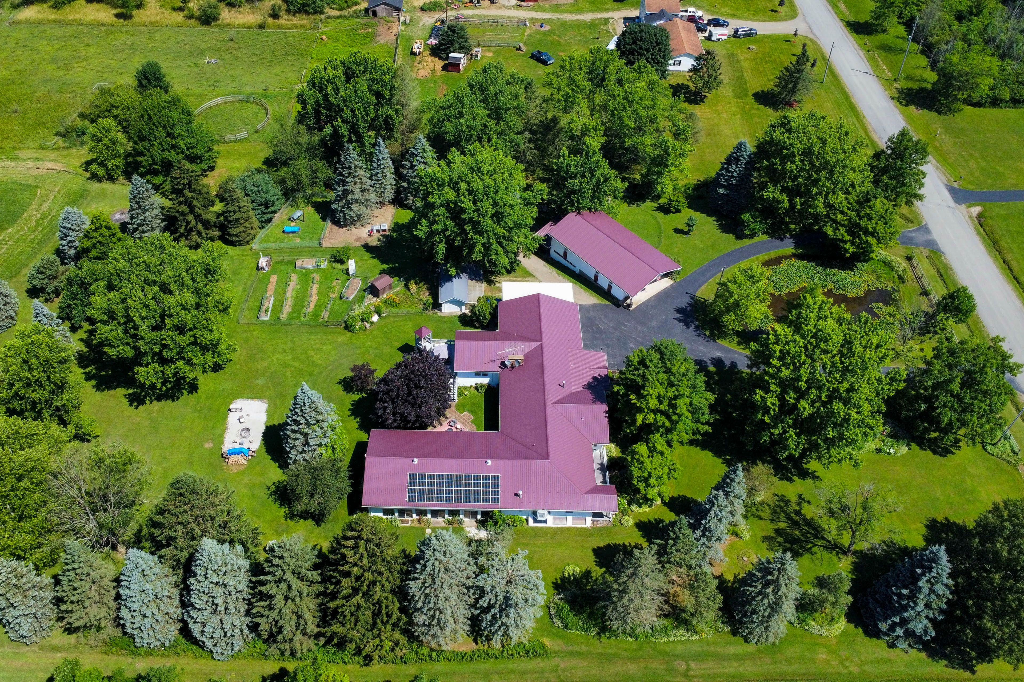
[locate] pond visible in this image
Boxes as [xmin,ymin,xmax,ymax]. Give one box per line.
[760,257,902,324]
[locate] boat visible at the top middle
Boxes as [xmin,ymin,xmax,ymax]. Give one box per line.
[410,36,424,54]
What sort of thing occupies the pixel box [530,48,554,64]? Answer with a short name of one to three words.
vehicle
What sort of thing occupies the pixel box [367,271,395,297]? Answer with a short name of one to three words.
shed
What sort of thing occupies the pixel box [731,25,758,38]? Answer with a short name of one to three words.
vehicle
